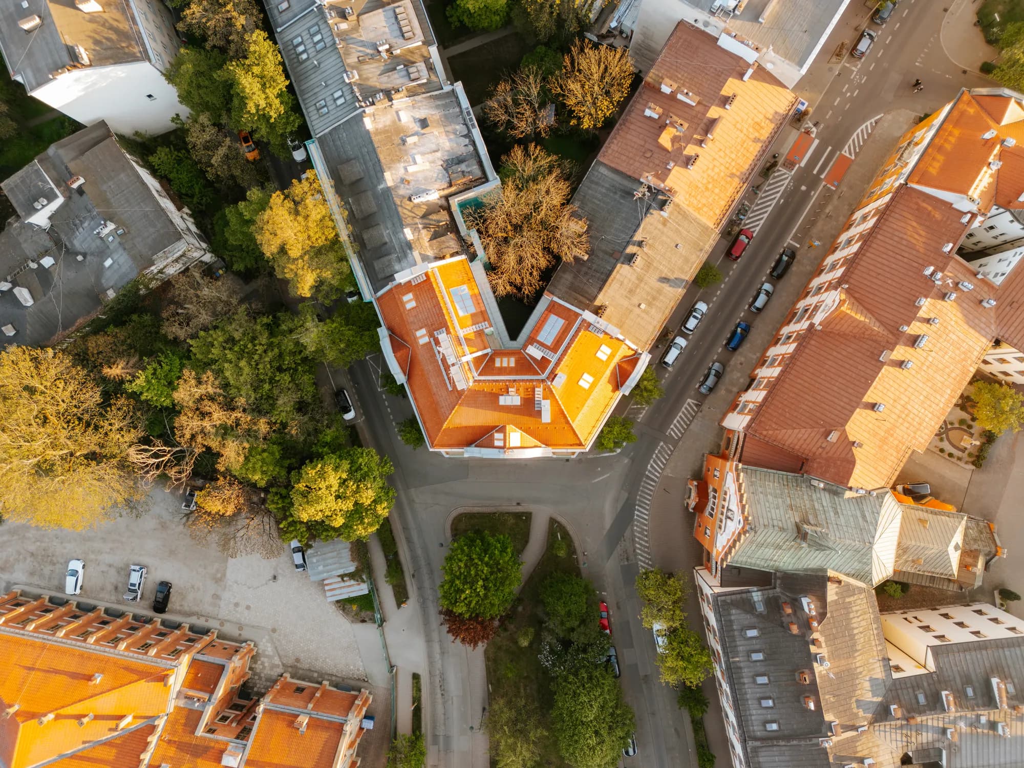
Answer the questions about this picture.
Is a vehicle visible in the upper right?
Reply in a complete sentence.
Yes, there is a vehicle in the upper right.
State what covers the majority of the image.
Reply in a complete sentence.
For the most part, this view shows buildings.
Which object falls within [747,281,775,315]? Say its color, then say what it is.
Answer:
gray car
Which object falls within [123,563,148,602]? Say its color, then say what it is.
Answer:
gray car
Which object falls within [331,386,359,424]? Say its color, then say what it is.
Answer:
black car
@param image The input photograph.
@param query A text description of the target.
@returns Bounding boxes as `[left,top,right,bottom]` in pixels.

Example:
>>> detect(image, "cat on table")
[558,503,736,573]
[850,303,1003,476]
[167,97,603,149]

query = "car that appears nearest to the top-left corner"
[237,129,263,165]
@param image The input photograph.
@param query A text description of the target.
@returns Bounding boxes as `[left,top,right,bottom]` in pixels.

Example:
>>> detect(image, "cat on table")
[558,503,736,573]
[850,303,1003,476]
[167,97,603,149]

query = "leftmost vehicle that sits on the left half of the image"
[66,559,87,594]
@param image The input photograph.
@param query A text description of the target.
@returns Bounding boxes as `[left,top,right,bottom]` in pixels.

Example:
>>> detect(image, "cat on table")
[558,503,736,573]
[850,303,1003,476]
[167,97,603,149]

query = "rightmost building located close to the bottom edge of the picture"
[693,568,1024,768]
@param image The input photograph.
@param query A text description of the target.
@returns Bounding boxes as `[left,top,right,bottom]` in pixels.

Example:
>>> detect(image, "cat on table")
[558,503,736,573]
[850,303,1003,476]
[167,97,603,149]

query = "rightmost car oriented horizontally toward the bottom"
[893,481,936,498]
